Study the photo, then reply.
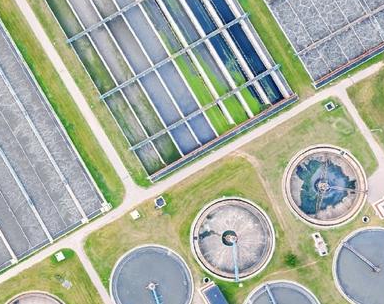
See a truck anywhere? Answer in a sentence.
No, I can't see a single truck in this photo.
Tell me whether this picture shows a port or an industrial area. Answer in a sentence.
What you see here is an industrial area.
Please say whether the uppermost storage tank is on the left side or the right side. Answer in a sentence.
The uppermost storage tank appears in the right half of the scene.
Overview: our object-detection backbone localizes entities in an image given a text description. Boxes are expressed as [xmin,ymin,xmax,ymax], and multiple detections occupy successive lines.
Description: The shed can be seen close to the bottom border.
[191,279,227,304]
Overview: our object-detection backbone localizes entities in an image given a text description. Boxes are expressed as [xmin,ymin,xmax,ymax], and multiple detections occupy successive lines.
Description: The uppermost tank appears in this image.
[281,144,370,230]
